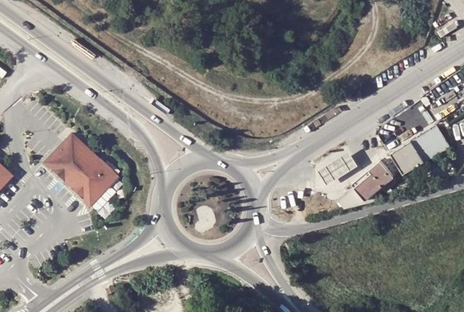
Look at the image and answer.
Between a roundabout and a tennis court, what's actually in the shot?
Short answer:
roundabout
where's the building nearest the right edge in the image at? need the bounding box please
[415,126,450,160]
